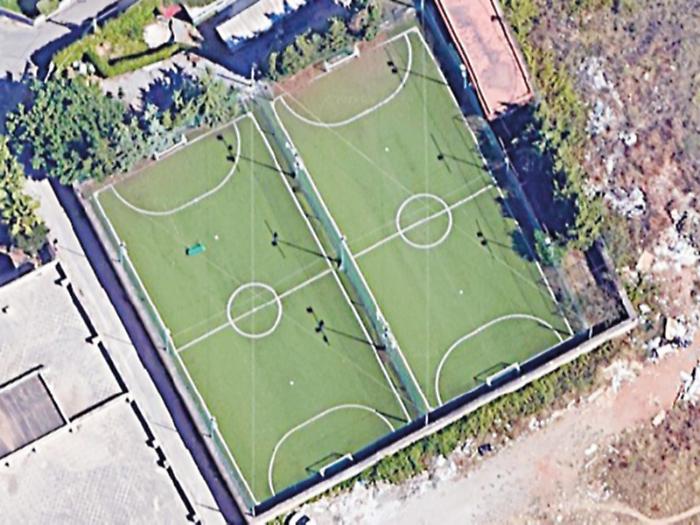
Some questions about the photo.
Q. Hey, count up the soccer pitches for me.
2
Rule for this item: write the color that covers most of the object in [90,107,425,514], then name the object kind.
green soccer field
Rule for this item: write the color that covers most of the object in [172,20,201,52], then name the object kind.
white gazebo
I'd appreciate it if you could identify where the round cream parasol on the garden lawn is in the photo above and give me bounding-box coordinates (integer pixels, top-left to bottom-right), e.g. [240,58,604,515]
[144,21,172,48]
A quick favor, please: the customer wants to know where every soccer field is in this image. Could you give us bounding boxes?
[253,24,577,426]
[90,107,425,514]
